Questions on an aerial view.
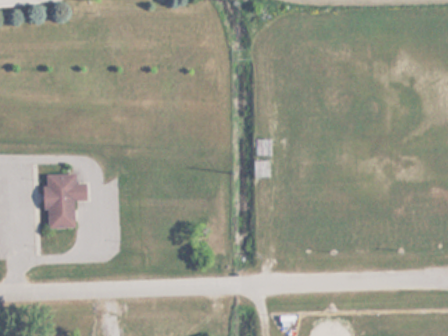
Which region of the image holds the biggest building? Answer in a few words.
left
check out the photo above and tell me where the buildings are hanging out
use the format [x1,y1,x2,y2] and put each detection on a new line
[280,316,298,332]
[44,175,88,230]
